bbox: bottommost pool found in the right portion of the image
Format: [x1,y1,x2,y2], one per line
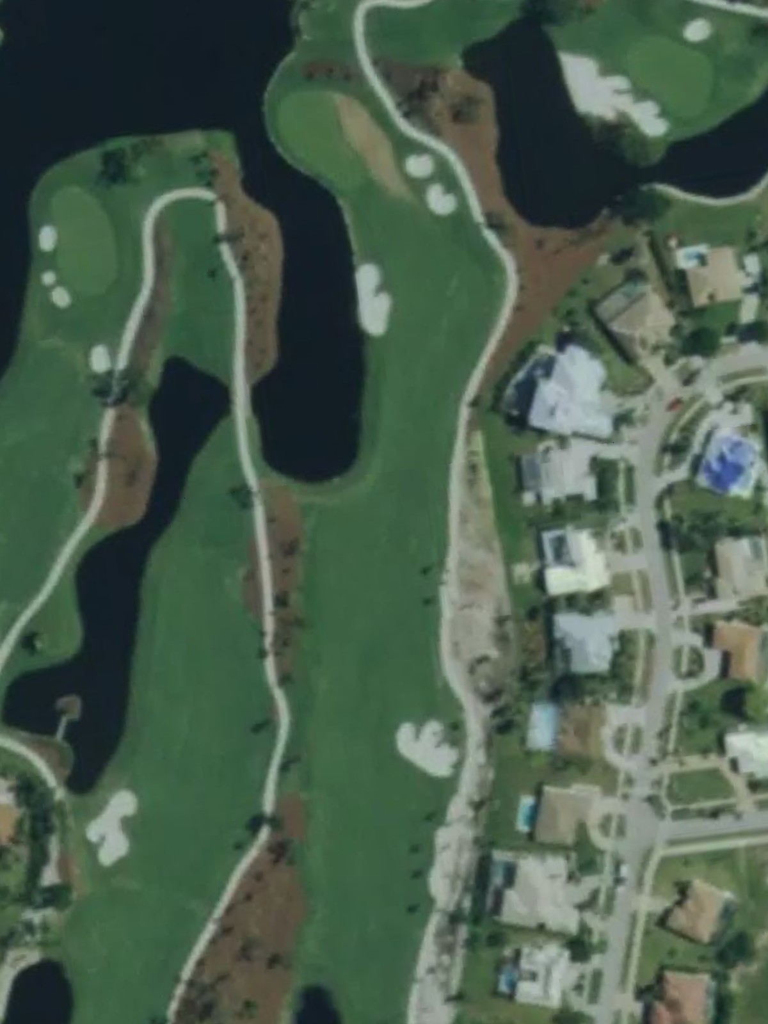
[498,965,519,993]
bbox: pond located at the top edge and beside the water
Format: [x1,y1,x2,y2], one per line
[463,20,768,227]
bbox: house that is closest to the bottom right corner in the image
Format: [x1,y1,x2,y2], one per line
[656,973,710,1024]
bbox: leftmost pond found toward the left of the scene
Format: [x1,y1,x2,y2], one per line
[4,960,72,1024]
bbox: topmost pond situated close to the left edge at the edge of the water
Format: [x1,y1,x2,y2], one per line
[3,357,229,793]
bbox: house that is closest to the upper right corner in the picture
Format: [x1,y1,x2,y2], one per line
[687,244,744,307]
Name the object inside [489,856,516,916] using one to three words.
swimming pool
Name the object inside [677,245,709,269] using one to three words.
swimming pool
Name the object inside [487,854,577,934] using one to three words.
house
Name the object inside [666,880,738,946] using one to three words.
house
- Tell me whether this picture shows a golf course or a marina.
golf course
